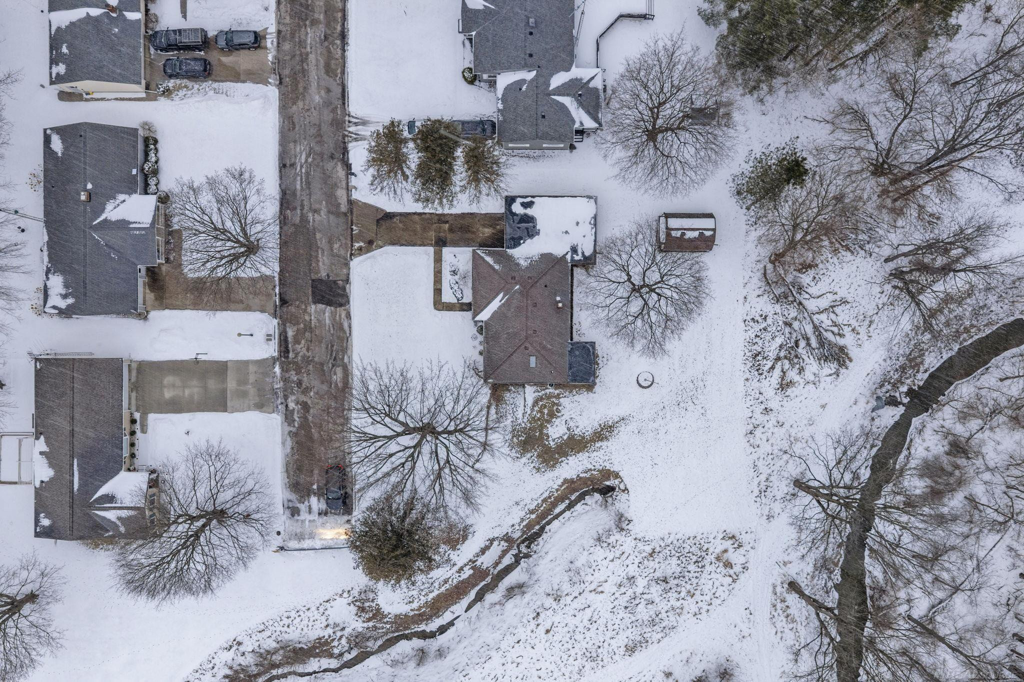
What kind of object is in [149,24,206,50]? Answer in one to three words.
truck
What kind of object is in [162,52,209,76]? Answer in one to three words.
car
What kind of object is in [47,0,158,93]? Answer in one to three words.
house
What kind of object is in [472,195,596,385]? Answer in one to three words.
house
